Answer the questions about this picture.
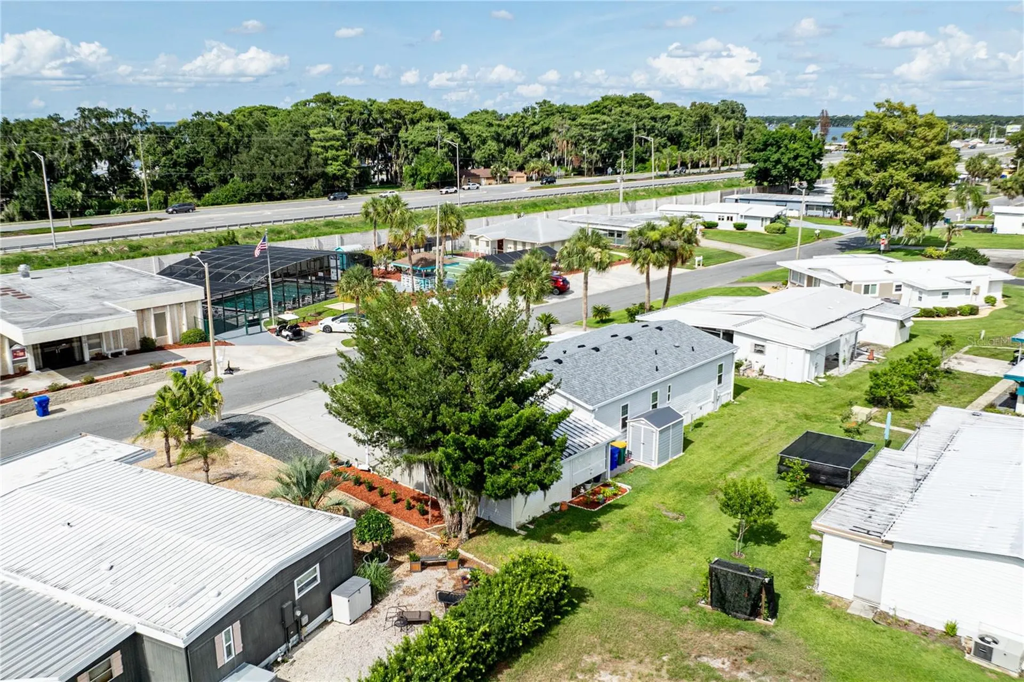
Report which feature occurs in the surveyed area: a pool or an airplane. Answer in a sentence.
Of the two, only a pool appears.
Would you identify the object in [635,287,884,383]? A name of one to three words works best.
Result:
house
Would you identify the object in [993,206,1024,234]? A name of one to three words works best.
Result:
house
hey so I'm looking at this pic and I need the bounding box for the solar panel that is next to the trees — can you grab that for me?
[480,248,558,273]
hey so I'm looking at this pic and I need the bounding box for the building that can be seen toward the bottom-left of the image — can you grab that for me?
[0,419,361,682]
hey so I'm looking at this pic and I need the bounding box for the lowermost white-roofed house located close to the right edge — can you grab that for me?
[807,403,1024,634]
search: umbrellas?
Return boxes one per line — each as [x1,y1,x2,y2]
[882,412,893,447]
[324,302,368,312]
